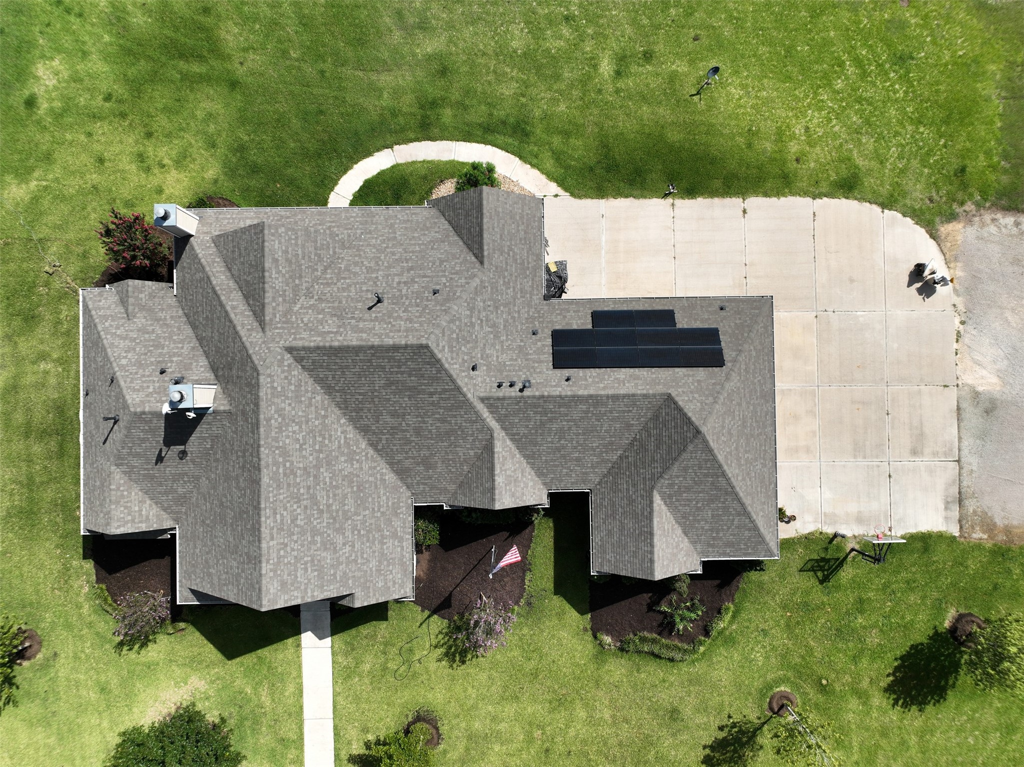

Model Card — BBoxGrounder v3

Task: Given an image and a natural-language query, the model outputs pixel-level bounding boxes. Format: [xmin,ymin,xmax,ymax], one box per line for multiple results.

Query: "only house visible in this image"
[81,186,779,611]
